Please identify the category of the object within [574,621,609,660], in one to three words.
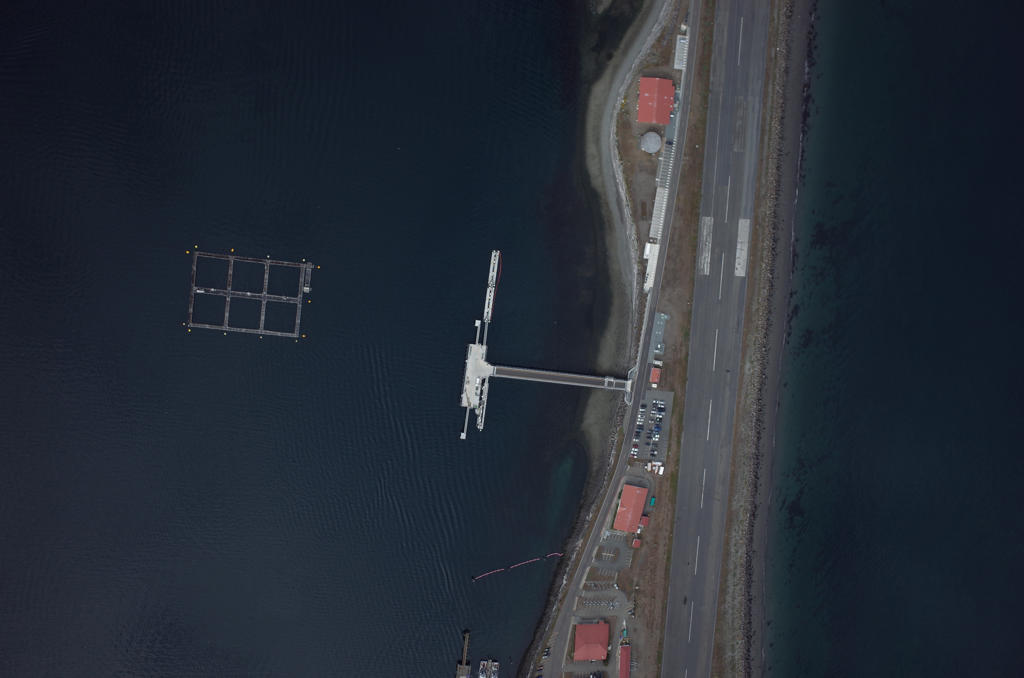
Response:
building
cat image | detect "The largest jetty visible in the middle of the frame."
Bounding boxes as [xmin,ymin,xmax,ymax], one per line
[459,320,632,439]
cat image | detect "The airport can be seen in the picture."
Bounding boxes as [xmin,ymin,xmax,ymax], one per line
[661,0,770,678]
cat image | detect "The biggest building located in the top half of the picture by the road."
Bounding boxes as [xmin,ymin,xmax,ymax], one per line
[637,77,675,126]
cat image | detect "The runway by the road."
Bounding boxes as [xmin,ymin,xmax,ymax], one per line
[661,0,770,678]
